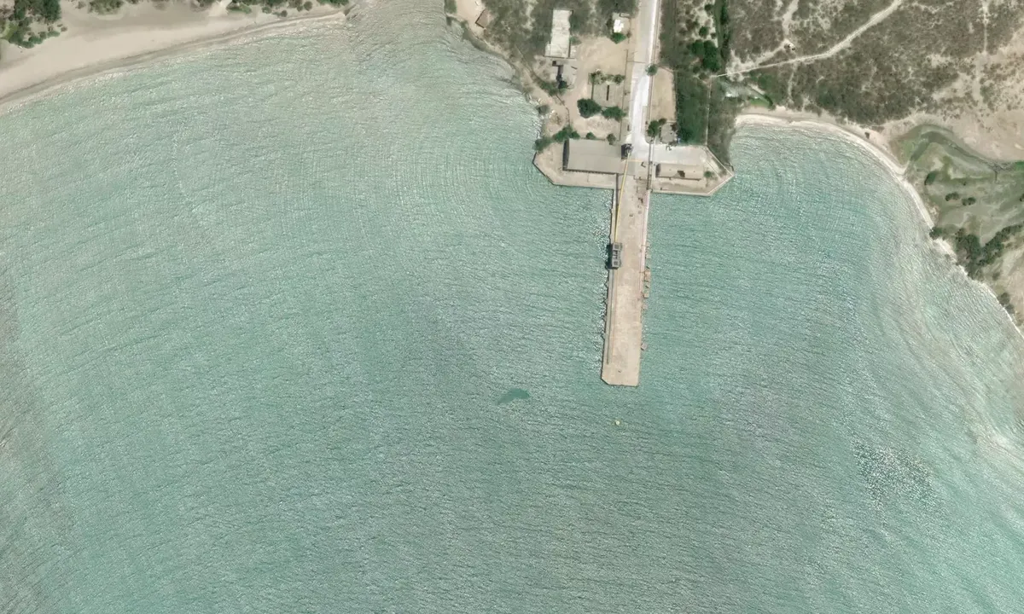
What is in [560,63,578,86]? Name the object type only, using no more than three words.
house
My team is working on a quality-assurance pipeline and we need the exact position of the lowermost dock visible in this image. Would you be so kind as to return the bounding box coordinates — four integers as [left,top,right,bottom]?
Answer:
[601,187,651,387]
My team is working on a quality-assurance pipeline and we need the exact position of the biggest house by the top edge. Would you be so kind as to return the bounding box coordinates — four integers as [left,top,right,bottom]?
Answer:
[543,10,576,58]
